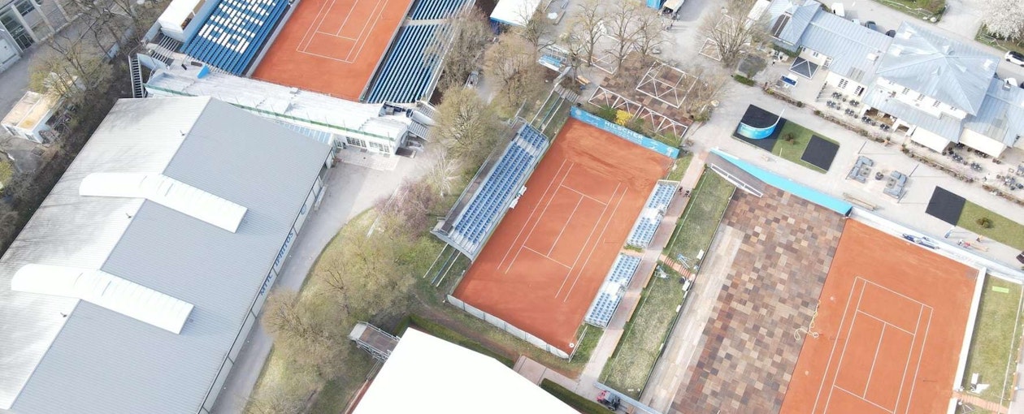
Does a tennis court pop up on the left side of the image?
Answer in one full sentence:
Yes, there is a tennis court on the left side of the image.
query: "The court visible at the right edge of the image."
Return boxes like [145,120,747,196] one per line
[782,218,979,414]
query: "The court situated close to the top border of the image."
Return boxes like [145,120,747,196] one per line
[252,0,413,99]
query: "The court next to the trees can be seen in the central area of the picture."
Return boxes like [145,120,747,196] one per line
[452,117,674,360]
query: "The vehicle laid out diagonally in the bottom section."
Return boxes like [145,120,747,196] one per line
[596,390,629,414]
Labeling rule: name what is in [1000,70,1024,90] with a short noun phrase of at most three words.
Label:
vehicle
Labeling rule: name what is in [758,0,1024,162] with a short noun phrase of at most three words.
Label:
building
